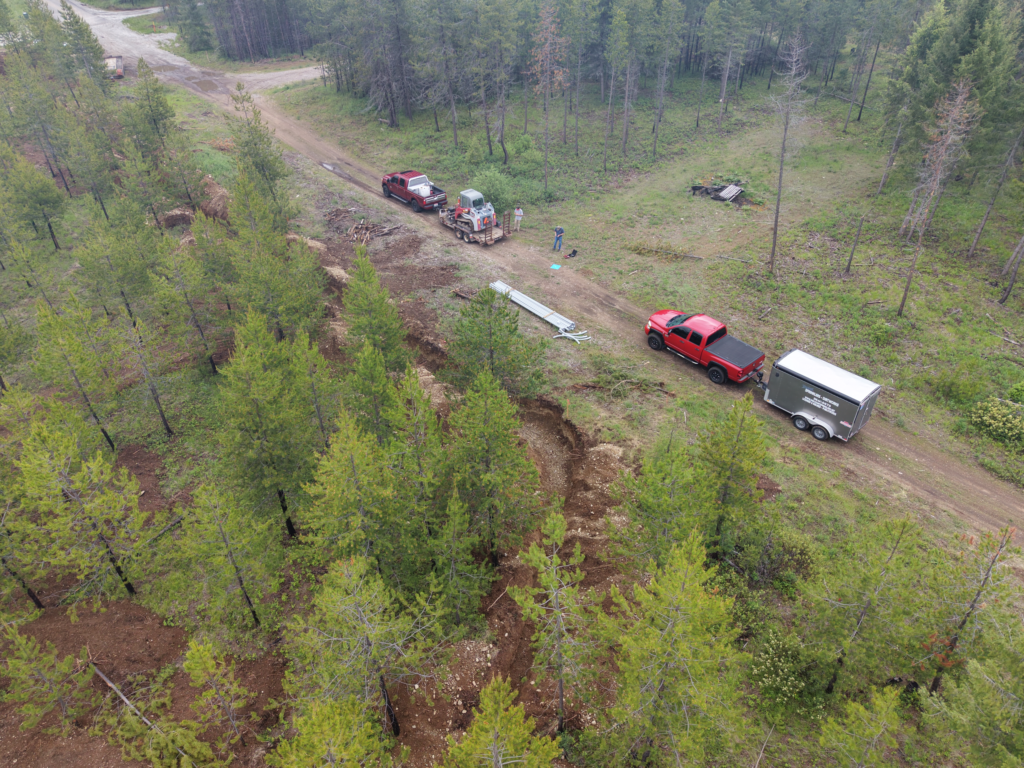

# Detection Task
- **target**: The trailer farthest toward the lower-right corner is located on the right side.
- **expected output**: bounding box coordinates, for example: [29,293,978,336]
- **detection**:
[754,348,882,440]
